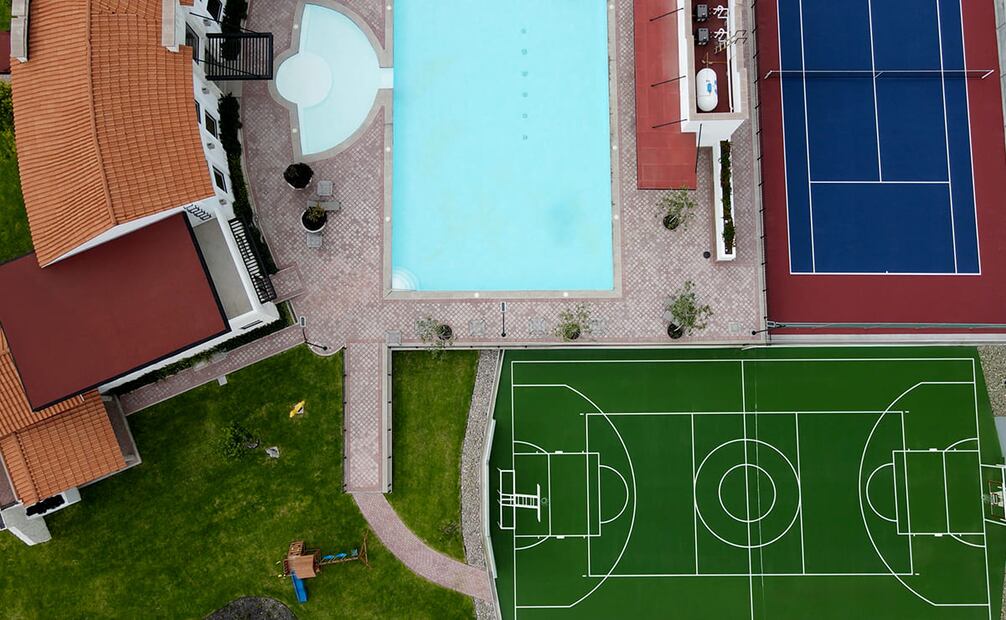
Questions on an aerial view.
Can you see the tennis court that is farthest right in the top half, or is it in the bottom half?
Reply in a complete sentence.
It is in the top half that the tennis court that is farthest right appears.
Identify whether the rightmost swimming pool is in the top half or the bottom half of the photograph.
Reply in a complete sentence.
The rightmost swimming pool sits in the top half of the picture.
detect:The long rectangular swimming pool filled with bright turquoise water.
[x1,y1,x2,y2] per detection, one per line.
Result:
[386,0,621,298]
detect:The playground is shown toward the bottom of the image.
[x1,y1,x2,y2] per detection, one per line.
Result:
[286,532,372,604]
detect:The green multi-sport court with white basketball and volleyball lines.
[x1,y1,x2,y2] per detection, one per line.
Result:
[490,348,1006,620]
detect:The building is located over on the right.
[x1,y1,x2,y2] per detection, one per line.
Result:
[633,0,749,190]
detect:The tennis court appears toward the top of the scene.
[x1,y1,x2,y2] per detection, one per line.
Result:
[757,0,1006,333]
